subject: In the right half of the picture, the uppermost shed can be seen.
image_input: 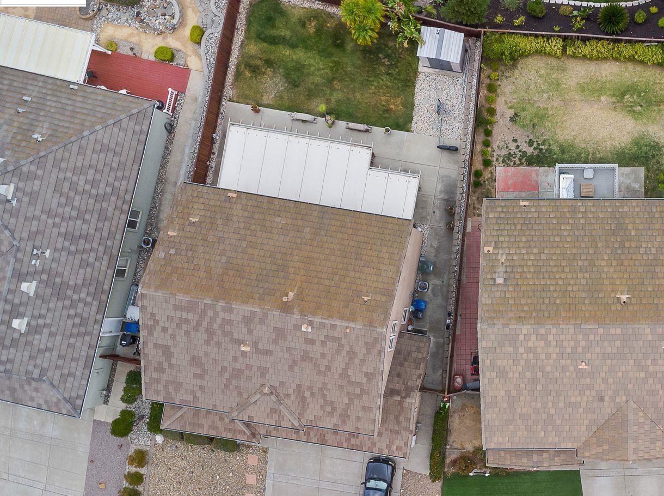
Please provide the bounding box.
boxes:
[418,27,466,71]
